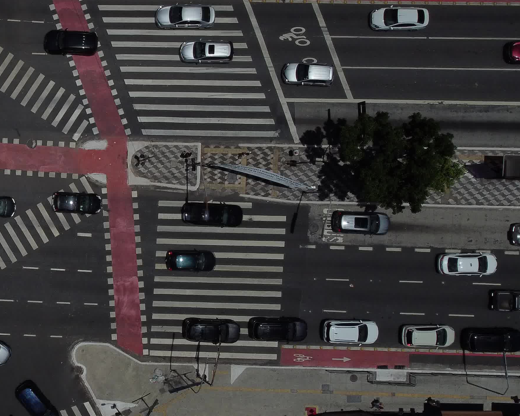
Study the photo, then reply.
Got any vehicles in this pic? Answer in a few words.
Yes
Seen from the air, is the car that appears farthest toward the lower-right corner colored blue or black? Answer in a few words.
black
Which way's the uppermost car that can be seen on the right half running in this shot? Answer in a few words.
from side to side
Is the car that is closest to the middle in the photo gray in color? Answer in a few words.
No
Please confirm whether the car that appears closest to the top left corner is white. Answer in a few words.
No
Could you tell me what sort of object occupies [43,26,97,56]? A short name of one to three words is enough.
car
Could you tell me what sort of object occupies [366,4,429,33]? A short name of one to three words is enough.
car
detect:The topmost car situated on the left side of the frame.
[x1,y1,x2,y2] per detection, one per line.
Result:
[153,2,214,31]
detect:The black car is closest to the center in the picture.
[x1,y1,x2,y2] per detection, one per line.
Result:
[180,201,242,228]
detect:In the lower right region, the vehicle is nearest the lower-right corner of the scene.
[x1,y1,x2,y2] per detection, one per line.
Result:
[457,327,520,355]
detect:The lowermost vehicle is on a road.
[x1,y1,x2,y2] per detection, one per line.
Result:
[15,377,57,416]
